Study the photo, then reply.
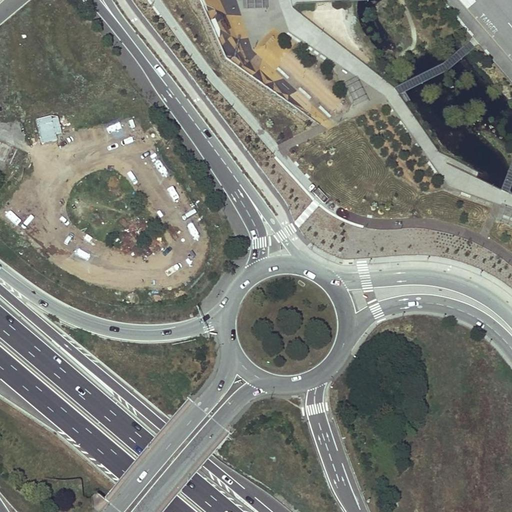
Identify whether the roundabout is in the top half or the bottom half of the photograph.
bottom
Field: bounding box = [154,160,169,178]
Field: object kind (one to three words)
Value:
camper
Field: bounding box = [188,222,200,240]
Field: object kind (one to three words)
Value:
vehicle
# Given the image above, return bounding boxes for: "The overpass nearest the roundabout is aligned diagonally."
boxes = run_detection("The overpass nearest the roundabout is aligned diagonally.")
[104,398,230,512]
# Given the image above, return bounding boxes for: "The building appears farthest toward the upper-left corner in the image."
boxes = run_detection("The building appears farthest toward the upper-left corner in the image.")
[36,114,61,144]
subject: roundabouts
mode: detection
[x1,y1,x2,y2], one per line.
[188,234,378,432]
